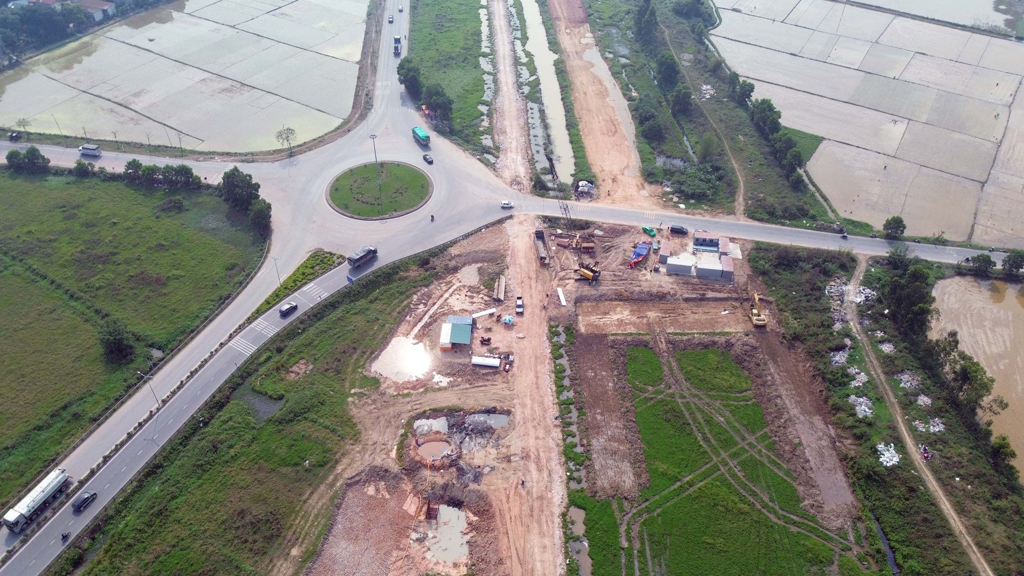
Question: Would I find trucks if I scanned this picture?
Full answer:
Yes, there's a truck here.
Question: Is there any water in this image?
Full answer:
Yes, water can be seen from above here.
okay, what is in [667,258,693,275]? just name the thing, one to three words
building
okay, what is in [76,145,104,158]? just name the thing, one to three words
vehicle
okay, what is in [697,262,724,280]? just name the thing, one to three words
building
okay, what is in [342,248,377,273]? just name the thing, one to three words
truck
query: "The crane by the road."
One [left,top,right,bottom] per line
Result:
[543,153,599,279]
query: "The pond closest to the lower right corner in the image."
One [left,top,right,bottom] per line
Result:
[931,277,1024,481]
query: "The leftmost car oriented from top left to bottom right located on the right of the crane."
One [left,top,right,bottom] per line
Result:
[641,227,656,239]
